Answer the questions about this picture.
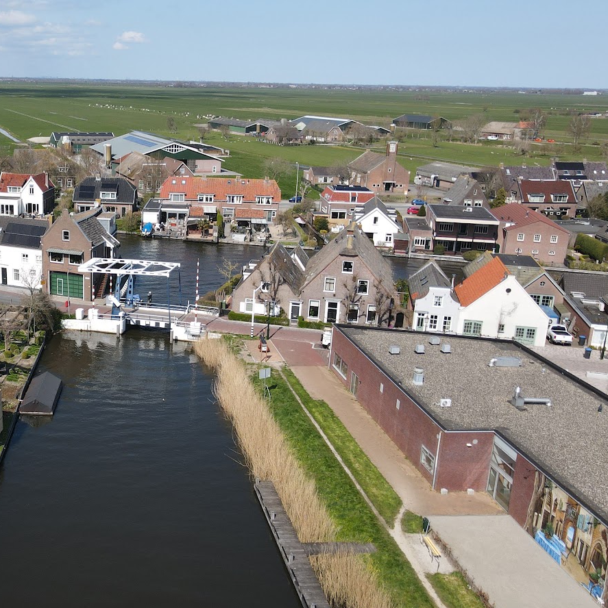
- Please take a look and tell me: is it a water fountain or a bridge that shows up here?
bridge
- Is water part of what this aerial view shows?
Yes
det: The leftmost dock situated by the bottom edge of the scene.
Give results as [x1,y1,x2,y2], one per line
[253,478,334,608]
